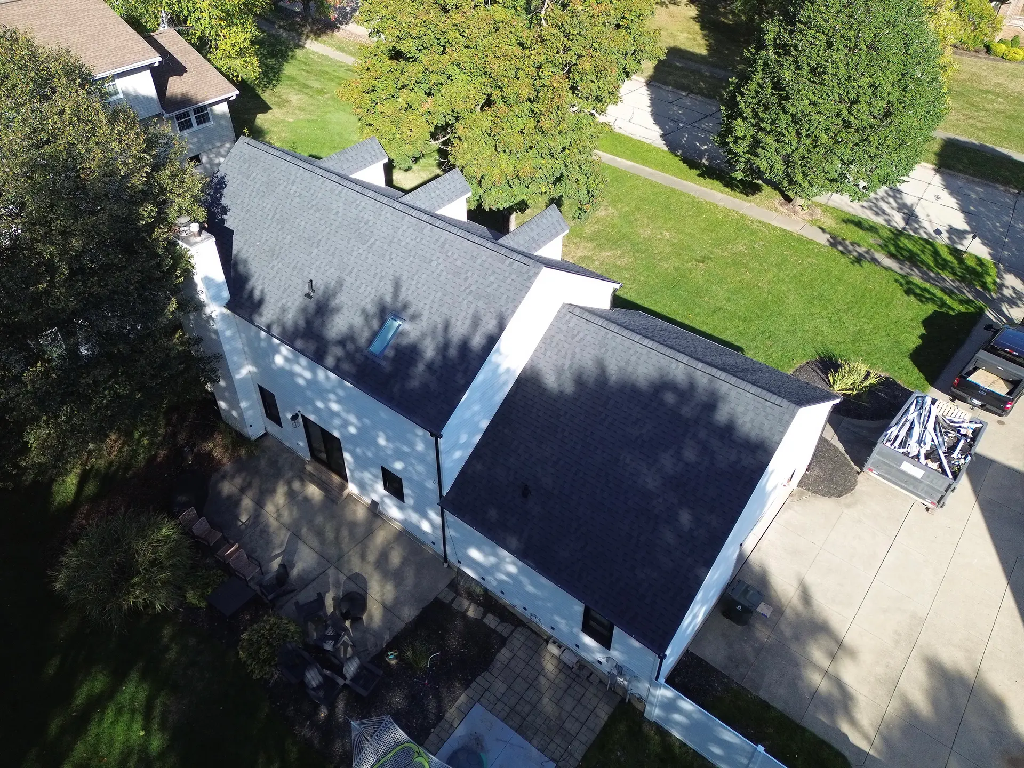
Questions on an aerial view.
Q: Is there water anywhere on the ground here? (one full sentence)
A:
No, no water is visible.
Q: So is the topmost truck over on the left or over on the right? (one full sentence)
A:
It is on the right.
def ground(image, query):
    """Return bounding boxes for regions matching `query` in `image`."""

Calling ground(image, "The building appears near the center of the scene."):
[166,136,842,715]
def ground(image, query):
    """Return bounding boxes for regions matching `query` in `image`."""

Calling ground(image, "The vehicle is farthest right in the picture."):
[947,318,1024,419]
